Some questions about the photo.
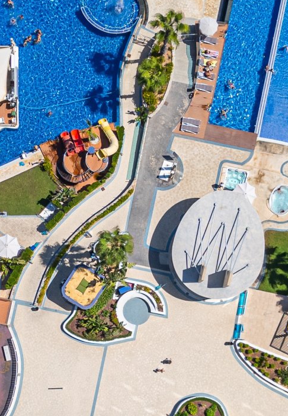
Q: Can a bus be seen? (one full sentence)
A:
No, the frame has no bus in it.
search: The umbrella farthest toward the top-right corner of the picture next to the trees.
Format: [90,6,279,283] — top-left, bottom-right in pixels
[199,17,217,36]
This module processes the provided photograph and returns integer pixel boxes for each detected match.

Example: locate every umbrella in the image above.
[0,234,20,260]
[199,17,217,36]
[235,181,256,201]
